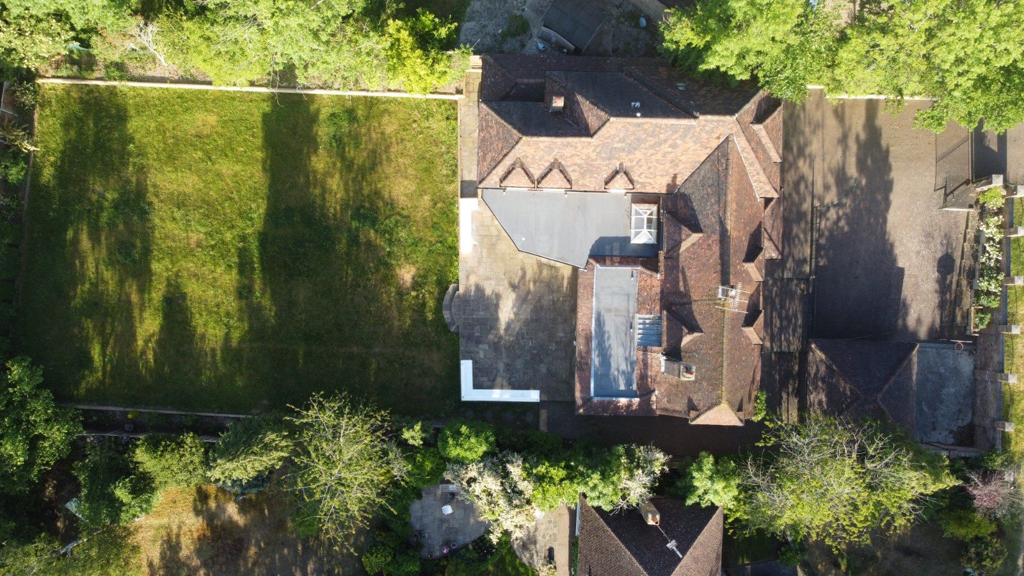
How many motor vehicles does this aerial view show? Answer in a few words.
zero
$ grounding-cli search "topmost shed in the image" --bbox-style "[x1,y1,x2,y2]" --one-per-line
[537,0,619,55]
